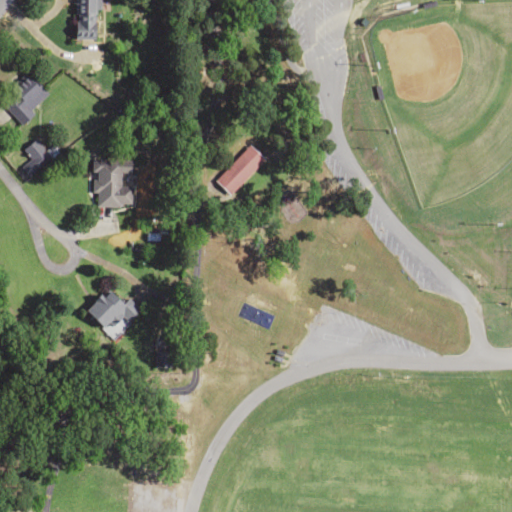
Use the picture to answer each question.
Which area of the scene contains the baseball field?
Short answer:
top right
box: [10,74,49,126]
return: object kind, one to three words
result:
house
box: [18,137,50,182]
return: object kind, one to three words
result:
house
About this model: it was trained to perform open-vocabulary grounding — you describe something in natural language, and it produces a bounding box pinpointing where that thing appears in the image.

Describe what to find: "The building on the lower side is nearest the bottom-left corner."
[88,290,141,343]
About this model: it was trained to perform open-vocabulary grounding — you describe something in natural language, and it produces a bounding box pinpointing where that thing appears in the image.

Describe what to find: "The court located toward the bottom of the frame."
[239,304,274,329]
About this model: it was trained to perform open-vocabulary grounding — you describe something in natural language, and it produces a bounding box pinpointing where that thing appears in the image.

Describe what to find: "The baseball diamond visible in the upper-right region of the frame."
[365,4,512,208]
